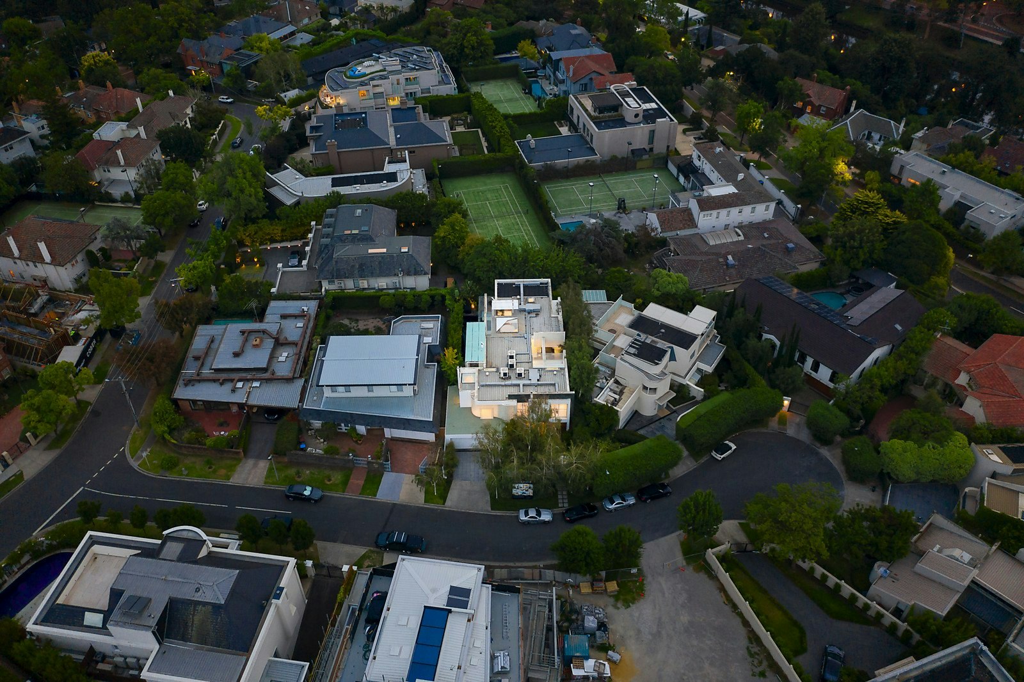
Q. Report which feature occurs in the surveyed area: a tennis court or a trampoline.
tennis court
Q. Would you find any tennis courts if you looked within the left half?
Yes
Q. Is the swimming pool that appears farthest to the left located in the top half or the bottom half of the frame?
bottom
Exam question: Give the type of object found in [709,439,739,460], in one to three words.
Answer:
car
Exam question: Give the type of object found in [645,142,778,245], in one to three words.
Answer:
house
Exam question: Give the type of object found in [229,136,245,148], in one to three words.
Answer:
vehicle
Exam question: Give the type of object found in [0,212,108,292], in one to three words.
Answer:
house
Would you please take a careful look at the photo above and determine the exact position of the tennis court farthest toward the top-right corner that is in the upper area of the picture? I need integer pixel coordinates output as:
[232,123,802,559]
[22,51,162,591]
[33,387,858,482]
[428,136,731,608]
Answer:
[548,165,688,218]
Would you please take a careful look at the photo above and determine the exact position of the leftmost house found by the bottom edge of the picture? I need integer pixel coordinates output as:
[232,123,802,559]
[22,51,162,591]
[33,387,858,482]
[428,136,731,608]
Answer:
[26,525,308,682]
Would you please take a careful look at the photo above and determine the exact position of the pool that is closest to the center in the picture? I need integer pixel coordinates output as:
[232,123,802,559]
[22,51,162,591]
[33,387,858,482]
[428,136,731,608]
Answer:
[569,218,589,237]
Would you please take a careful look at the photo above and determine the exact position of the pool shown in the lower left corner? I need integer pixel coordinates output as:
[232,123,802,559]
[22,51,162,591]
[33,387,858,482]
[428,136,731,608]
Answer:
[0,547,76,623]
